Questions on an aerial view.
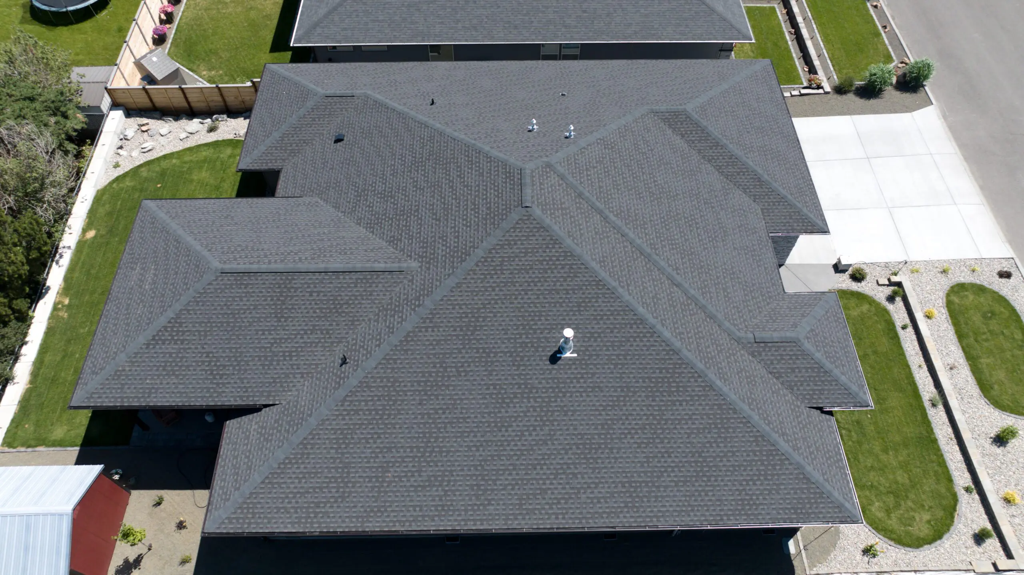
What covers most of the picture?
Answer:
buildings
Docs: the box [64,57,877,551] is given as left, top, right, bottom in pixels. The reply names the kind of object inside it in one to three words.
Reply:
house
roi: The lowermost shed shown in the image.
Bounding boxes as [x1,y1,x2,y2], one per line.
[0,465,132,575]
